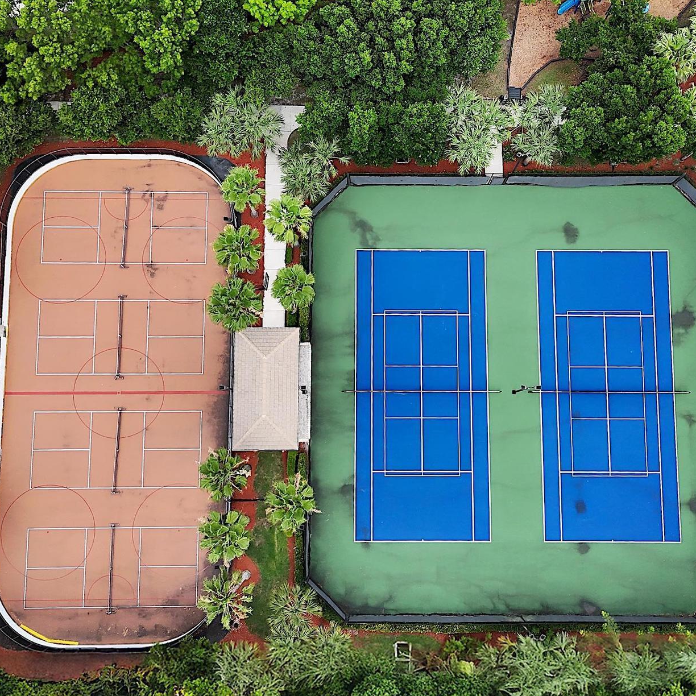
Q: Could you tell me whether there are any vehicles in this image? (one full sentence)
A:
No, there appears to be no vehicle in this shot.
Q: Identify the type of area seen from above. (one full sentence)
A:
What you see here is a sports ground.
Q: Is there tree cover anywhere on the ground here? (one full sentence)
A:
Yes, tree cover can be seen from above here.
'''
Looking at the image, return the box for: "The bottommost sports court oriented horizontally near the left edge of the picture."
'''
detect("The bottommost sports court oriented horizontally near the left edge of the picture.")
[24,527,199,608]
